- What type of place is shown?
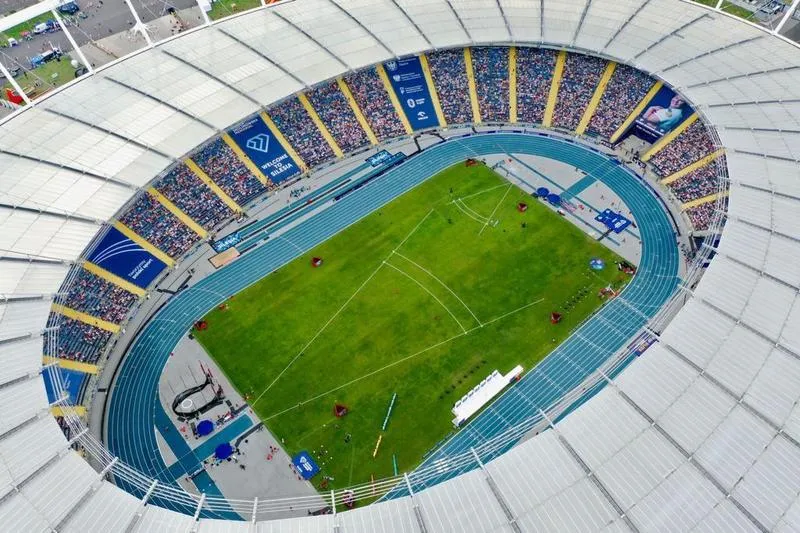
sports ground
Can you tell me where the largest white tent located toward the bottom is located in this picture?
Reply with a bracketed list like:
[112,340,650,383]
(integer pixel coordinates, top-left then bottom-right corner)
[449,363,524,426]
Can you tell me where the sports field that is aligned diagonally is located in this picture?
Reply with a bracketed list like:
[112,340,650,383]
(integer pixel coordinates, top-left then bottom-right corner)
[153,153,642,519]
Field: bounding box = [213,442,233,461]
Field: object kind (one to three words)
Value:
umbrella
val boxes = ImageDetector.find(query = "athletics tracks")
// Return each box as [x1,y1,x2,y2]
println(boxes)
[106,135,680,533]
